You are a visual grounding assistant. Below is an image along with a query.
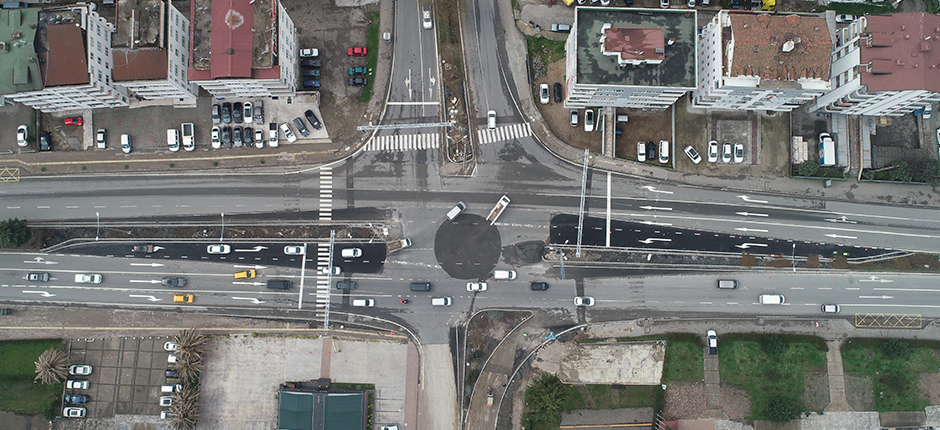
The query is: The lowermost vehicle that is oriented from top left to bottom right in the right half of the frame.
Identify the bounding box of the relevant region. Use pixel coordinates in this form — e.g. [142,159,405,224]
[683,145,701,164]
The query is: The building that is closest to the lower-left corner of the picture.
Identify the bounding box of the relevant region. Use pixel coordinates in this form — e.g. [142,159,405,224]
[278,375,368,430]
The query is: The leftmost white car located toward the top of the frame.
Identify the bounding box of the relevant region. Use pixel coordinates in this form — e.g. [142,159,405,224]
[17,125,29,146]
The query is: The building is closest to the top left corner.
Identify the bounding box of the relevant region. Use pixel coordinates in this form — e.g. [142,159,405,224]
[0,2,129,118]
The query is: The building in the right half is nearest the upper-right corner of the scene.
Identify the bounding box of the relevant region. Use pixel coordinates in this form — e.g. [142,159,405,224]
[811,12,940,118]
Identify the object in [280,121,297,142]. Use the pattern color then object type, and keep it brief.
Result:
white car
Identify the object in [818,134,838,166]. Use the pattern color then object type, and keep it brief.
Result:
white vehicle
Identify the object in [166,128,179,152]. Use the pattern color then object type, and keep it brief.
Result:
white vehicle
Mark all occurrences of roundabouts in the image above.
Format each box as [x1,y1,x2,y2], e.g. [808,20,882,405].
[435,218,501,280]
